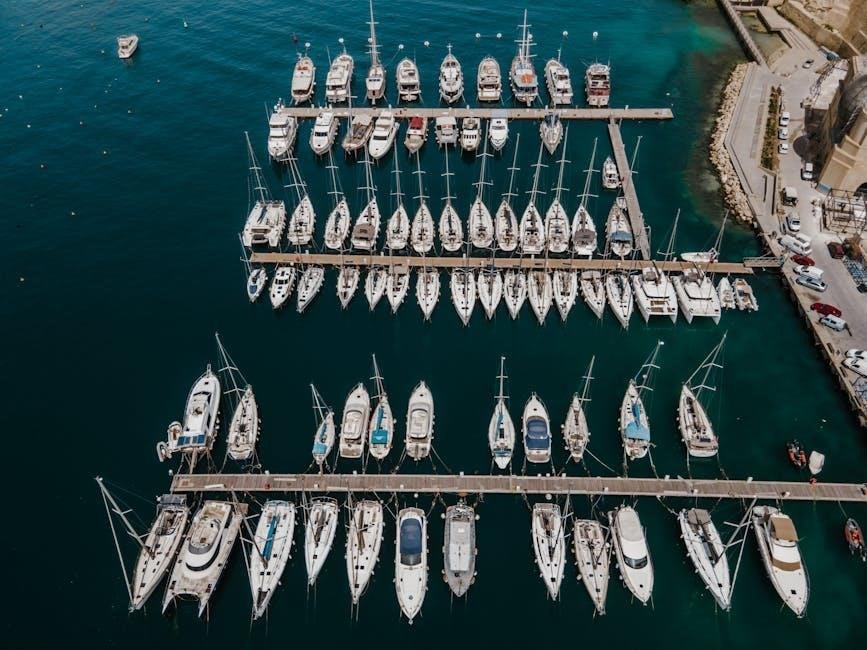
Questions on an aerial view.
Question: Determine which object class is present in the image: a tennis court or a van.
van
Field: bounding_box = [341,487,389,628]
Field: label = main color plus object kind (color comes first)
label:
white boat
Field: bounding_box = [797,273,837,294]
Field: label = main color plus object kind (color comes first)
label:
gray car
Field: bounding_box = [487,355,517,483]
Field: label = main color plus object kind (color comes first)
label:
white boat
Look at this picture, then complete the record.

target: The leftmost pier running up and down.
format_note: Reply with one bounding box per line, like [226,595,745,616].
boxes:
[606,118,651,259]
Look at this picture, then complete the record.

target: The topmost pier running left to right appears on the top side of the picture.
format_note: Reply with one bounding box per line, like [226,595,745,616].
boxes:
[290,107,675,121]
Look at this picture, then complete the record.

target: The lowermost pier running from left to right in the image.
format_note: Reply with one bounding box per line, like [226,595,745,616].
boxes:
[168,474,867,503]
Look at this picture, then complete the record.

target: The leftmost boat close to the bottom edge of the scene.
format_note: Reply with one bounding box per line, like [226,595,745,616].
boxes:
[95,476,196,633]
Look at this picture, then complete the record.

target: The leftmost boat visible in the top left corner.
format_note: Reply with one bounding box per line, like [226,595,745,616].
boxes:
[119,36,139,60]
